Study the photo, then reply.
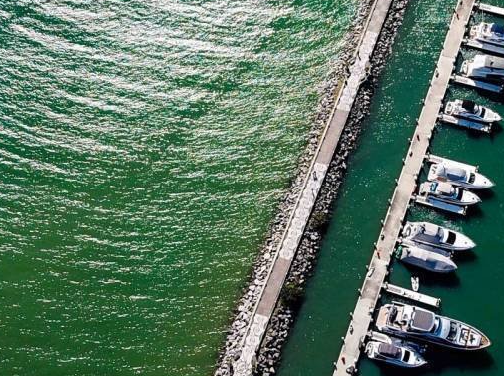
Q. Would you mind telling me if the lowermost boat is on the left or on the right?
right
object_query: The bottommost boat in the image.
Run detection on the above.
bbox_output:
[366,340,428,368]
